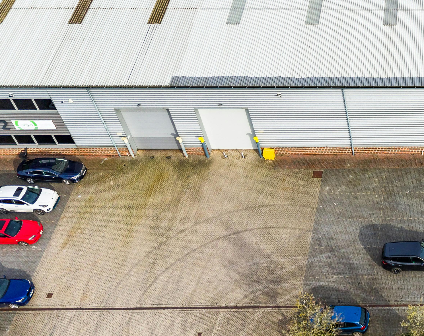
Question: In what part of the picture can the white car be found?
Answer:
left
